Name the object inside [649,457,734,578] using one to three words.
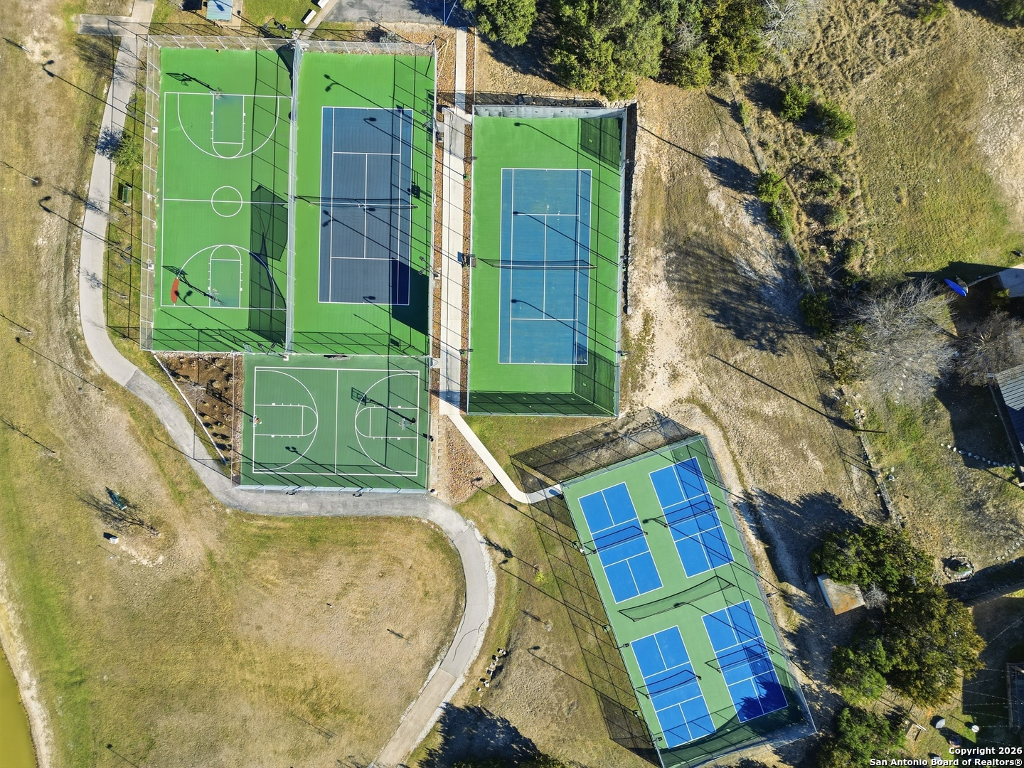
sports court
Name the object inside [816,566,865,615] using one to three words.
shed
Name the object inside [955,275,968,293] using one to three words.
boat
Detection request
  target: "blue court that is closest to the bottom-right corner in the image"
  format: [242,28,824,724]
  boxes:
[702,600,788,724]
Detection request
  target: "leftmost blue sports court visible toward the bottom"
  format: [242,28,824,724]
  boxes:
[578,482,663,604]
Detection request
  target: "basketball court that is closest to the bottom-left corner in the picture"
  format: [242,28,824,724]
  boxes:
[241,354,430,490]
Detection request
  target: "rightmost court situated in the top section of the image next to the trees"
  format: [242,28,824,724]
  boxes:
[468,118,622,414]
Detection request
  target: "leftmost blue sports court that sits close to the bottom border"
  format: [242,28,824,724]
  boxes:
[630,626,716,749]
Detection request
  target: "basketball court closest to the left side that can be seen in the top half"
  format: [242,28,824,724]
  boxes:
[153,48,303,353]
